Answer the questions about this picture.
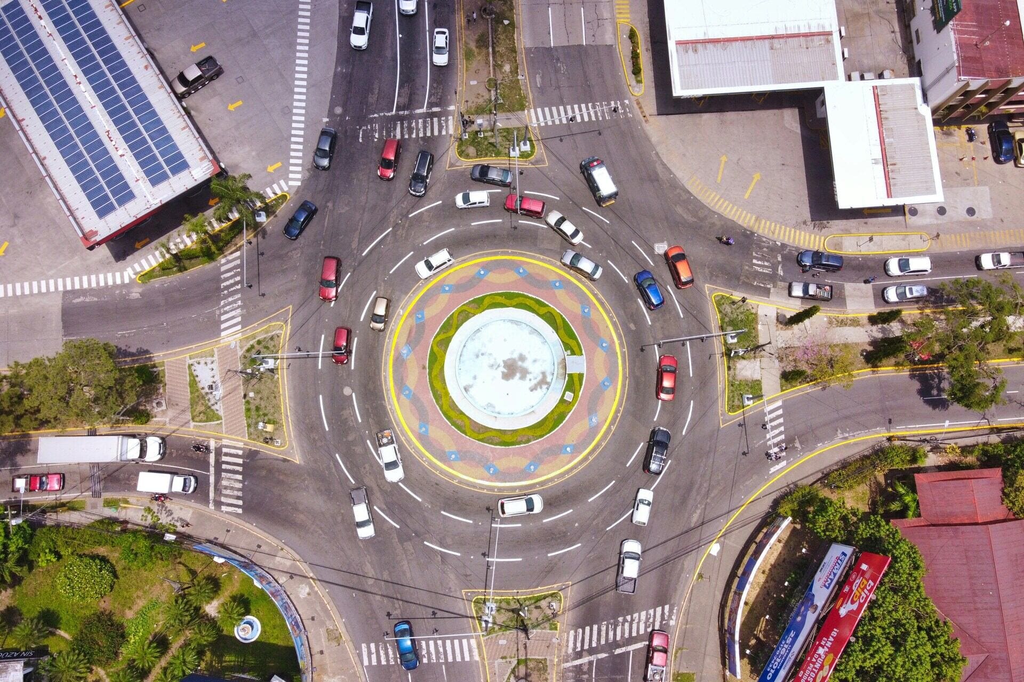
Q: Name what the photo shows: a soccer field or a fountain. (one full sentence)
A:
Of the two, only a fountain appears.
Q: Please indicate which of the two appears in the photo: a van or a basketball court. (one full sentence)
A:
There is a van in the scene.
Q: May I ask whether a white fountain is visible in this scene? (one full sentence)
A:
Yes, the picture does show a white fountain.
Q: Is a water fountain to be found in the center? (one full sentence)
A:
Yes, looking in the center, one can make out a water fountain.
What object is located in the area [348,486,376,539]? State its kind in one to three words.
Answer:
truck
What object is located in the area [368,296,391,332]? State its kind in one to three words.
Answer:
car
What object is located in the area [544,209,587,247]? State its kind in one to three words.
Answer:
car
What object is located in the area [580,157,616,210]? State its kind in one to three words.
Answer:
van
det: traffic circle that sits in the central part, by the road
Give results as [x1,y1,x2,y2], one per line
[382,251,630,498]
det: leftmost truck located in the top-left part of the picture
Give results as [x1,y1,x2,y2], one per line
[170,53,227,96]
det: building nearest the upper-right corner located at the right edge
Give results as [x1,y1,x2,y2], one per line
[903,0,1024,122]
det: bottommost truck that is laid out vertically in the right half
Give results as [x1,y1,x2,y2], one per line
[644,630,672,682]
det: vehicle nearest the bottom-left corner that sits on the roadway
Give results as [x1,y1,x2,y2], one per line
[9,471,67,495]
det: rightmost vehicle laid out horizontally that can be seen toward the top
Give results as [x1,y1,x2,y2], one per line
[973,249,1024,272]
